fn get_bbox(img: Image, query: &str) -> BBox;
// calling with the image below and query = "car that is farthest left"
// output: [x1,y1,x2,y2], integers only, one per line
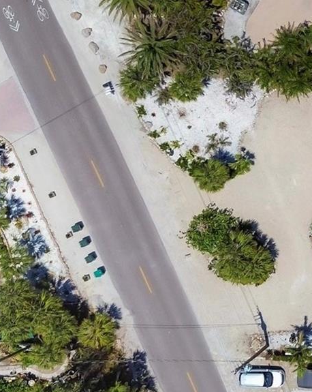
[240,369,286,391]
